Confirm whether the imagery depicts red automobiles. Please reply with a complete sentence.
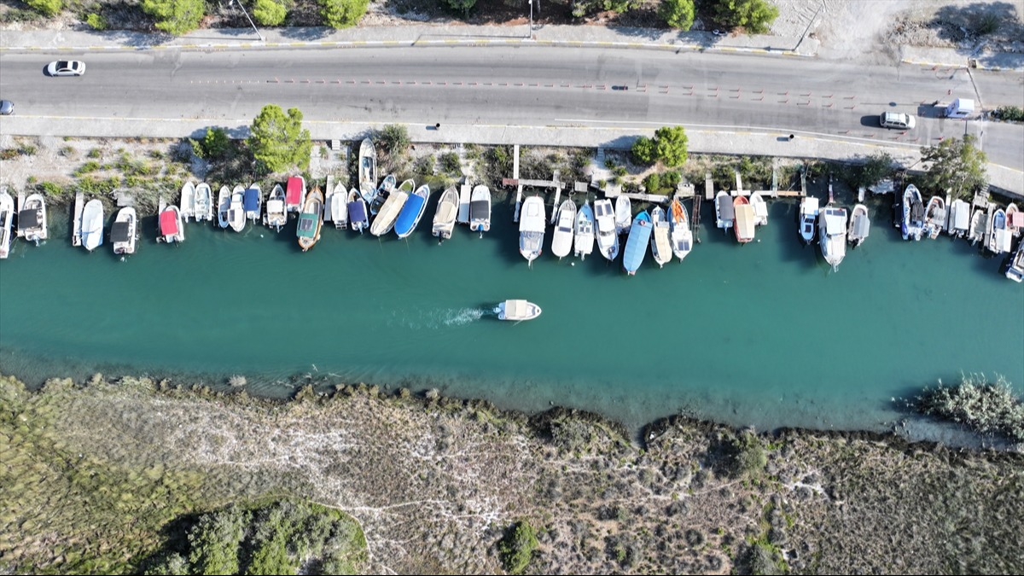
No, I can't see a single red automobile in this photo.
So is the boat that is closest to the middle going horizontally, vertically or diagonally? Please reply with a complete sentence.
The boat that is closest to the middle has been laid out horizontally relative to the frame.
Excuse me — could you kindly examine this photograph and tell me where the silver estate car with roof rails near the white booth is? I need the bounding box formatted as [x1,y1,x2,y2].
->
[877,110,917,131]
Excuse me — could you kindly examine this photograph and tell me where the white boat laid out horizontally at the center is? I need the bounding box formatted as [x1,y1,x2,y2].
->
[491,299,541,320]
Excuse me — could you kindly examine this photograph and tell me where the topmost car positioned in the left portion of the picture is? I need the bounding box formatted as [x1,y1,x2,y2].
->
[46,57,87,77]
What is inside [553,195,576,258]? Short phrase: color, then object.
white boat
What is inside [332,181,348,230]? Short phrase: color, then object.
white boat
